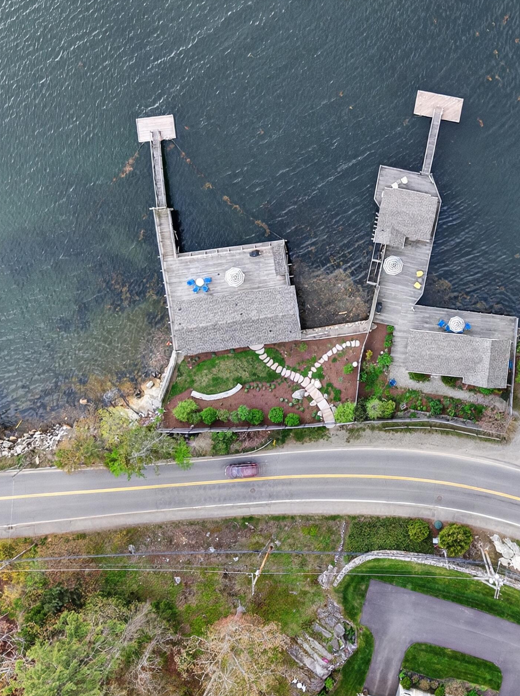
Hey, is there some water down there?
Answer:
Yes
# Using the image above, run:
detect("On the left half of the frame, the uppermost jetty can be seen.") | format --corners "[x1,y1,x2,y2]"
[135,113,176,144]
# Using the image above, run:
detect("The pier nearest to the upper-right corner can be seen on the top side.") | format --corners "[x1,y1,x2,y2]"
[413,90,465,123]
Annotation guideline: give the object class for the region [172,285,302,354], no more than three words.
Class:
house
